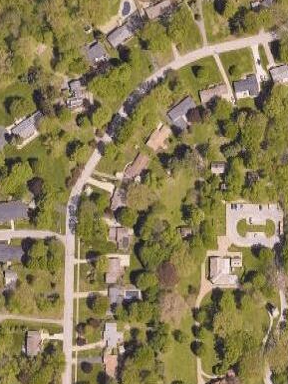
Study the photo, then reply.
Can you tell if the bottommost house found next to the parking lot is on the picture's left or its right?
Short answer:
right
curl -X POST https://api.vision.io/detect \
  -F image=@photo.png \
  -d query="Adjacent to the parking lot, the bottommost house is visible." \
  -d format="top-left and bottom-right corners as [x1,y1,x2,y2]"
[210,256,241,286]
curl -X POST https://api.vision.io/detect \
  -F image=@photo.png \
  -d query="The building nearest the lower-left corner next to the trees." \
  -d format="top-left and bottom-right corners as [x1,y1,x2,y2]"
[26,330,41,355]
